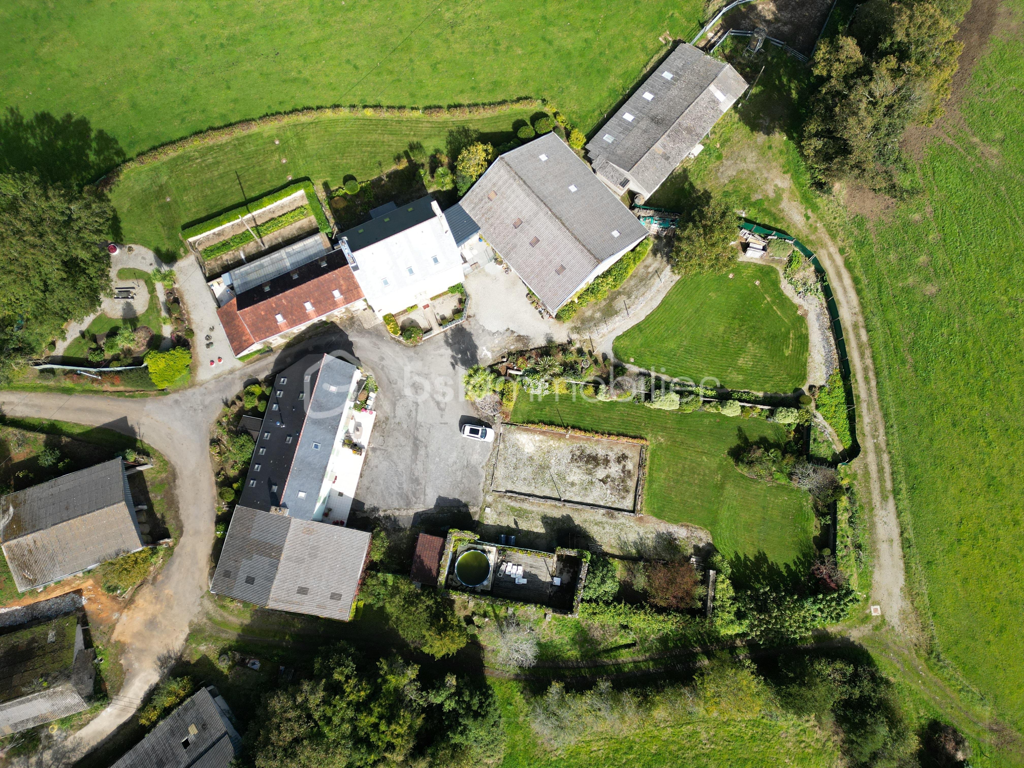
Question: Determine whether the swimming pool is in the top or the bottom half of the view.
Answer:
bottom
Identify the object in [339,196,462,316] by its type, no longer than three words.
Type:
house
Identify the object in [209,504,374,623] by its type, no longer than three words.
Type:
barn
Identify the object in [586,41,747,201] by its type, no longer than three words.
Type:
barn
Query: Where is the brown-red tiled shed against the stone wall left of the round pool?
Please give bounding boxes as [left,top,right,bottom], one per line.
[410,533,449,586]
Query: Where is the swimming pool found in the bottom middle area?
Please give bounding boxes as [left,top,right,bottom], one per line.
[455,550,491,588]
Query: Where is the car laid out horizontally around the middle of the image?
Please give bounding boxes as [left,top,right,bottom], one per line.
[460,426,494,443]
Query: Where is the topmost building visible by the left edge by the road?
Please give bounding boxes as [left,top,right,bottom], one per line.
[0,456,157,596]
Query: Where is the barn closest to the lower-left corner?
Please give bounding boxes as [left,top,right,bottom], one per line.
[0,615,102,734]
